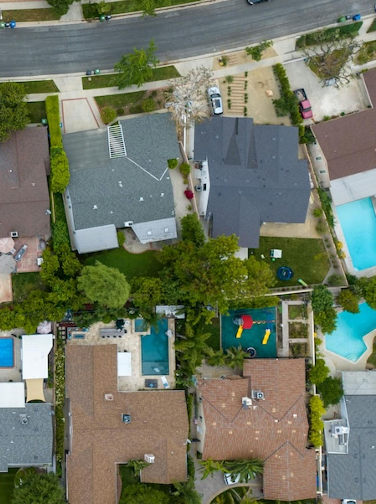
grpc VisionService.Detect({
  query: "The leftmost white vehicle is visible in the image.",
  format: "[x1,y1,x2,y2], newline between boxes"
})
[207,86,223,115]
